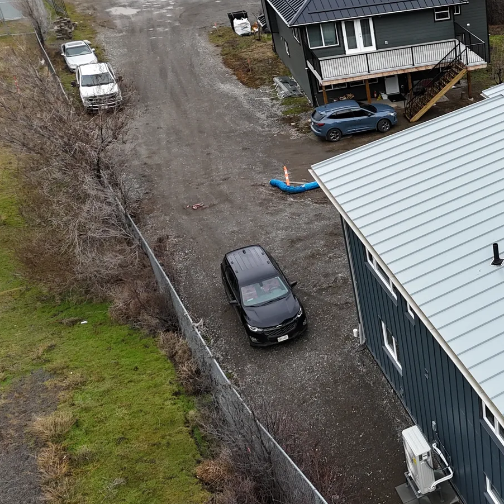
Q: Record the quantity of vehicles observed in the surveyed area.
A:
four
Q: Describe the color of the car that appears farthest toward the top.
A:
white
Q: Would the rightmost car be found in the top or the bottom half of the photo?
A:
top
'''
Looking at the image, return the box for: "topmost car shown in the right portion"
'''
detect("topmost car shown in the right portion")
[304,97,400,142]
